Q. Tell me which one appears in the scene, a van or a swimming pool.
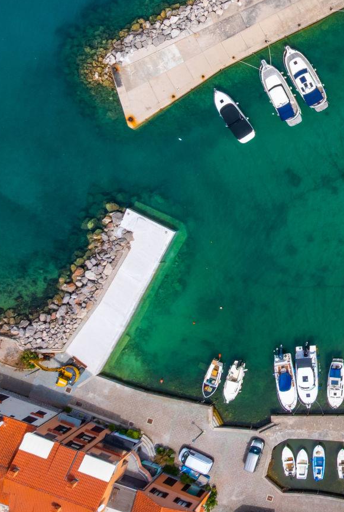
van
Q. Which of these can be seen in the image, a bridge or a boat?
boat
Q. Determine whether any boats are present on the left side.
No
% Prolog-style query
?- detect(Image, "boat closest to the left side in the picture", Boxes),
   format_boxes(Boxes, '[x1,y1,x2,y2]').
[203,356,222,403]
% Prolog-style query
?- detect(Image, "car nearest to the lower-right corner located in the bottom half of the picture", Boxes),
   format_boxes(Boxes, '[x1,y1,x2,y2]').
[242,436,265,473]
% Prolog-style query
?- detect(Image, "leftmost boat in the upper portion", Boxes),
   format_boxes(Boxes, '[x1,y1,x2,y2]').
[210,90,251,143]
